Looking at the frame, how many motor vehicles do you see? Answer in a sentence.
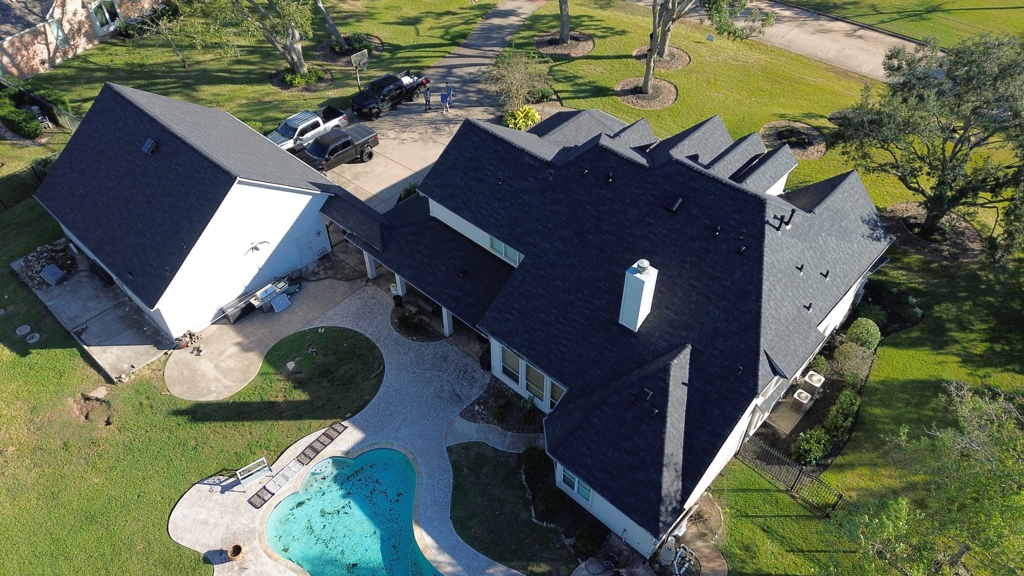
Looking from above, you can make out 3 motor vehicles.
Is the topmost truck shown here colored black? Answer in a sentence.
Yes, the topmost truck appears black.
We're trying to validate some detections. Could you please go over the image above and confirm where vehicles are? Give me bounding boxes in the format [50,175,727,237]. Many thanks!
[292,122,387,180]
[263,103,358,157]
[346,71,432,122]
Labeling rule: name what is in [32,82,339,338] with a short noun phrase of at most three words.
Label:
building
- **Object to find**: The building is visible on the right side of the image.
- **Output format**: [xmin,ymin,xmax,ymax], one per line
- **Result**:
[343,109,896,560]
